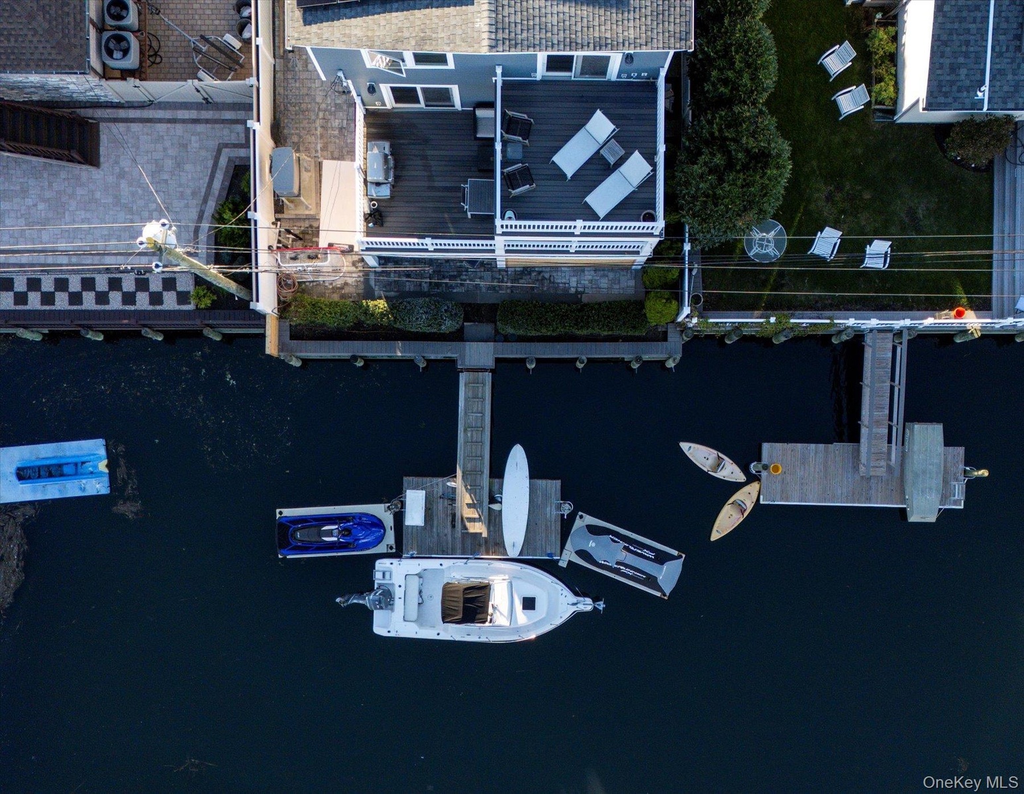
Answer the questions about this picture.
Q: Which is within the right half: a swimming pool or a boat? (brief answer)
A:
boat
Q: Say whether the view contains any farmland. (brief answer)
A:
No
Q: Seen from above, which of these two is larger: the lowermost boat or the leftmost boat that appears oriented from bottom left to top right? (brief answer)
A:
the lowermost boat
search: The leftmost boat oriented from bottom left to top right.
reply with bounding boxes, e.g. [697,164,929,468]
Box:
[710,482,760,541]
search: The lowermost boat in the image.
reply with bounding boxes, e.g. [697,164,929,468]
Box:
[337,558,605,643]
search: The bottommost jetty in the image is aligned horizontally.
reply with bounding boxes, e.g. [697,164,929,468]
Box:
[389,477,572,557]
